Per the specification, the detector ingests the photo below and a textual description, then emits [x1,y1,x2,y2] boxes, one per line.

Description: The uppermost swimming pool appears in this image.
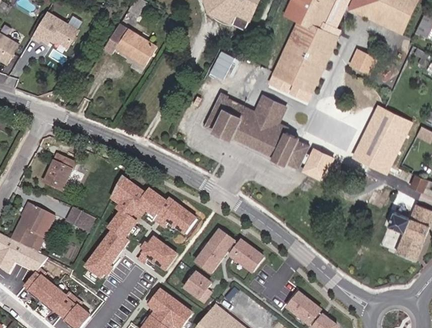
[16,0,36,14]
